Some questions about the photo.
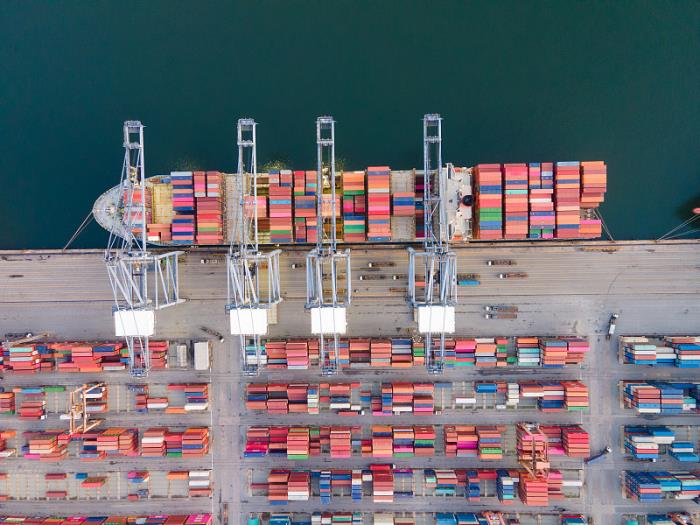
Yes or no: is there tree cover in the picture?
No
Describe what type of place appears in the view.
port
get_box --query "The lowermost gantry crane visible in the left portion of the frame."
[68,381,107,433]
